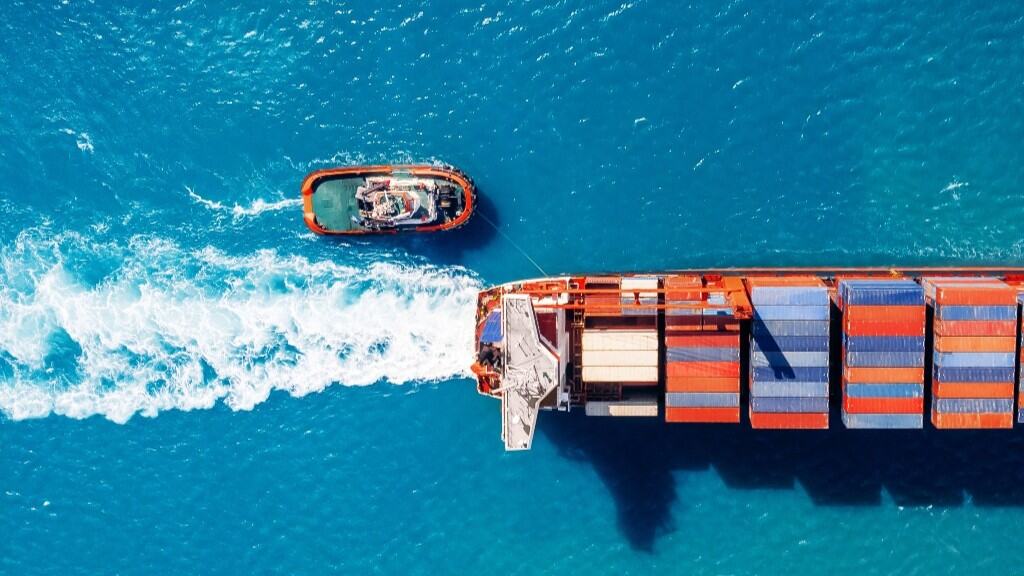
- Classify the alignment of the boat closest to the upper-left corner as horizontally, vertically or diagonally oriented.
horizontally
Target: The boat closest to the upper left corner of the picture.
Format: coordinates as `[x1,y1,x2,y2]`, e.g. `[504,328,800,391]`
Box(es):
[305,162,480,237]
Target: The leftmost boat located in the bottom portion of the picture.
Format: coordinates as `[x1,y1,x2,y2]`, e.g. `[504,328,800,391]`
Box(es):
[471,362,487,374]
